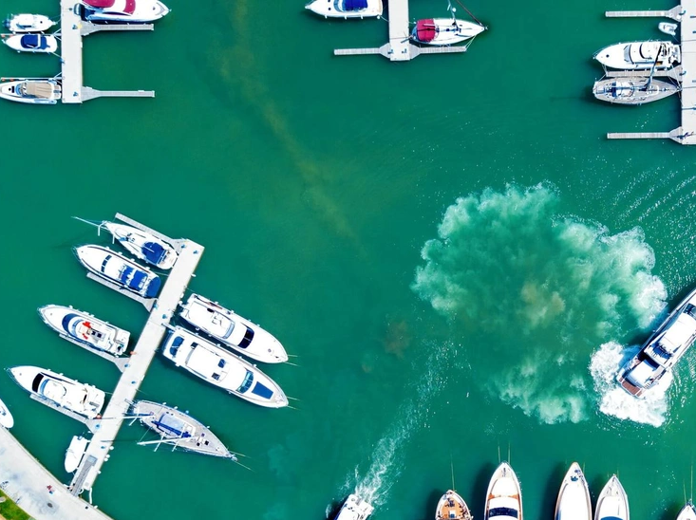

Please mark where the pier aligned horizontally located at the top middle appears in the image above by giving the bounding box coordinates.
[334,0,466,63]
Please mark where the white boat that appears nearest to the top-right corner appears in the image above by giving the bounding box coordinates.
[659,21,678,36]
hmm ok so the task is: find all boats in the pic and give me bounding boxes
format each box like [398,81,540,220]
[157,321,297,407]
[101,395,250,469]
[11,367,112,416]
[335,495,372,520]
[436,485,472,520]
[3,31,60,54]
[181,296,296,363]
[659,21,678,36]
[593,463,626,520]
[595,40,679,75]
[484,441,523,520]
[308,0,387,22]
[38,307,137,358]
[80,0,167,30]
[0,78,62,106]
[0,397,12,426]
[5,13,60,35]
[615,291,696,401]
[80,213,178,270]
[67,433,88,472]
[75,247,162,300]
[592,49,684,107]
[408,0,484,47]
[550,443,590,520]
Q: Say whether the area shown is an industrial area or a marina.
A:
marina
